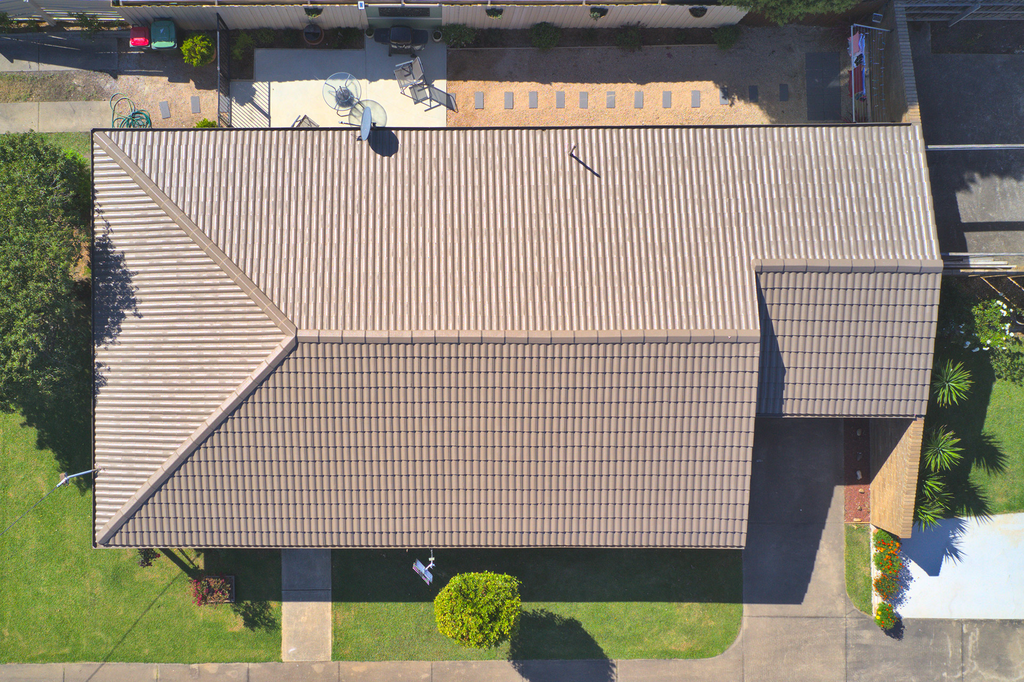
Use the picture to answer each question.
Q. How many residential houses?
1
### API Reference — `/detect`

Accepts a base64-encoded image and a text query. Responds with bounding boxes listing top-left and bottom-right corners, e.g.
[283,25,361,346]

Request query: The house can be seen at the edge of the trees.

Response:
[93,126,945,548]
